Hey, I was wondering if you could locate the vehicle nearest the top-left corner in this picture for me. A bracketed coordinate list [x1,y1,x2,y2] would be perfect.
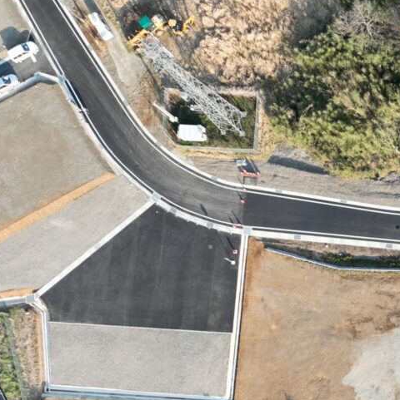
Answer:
[7,45,45,66]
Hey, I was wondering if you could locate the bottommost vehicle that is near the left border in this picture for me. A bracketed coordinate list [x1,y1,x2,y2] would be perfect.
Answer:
[0,74,23,94]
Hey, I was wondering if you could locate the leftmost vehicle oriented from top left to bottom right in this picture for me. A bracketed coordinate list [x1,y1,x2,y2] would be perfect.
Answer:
[91,14,116,46]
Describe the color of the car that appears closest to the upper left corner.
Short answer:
white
